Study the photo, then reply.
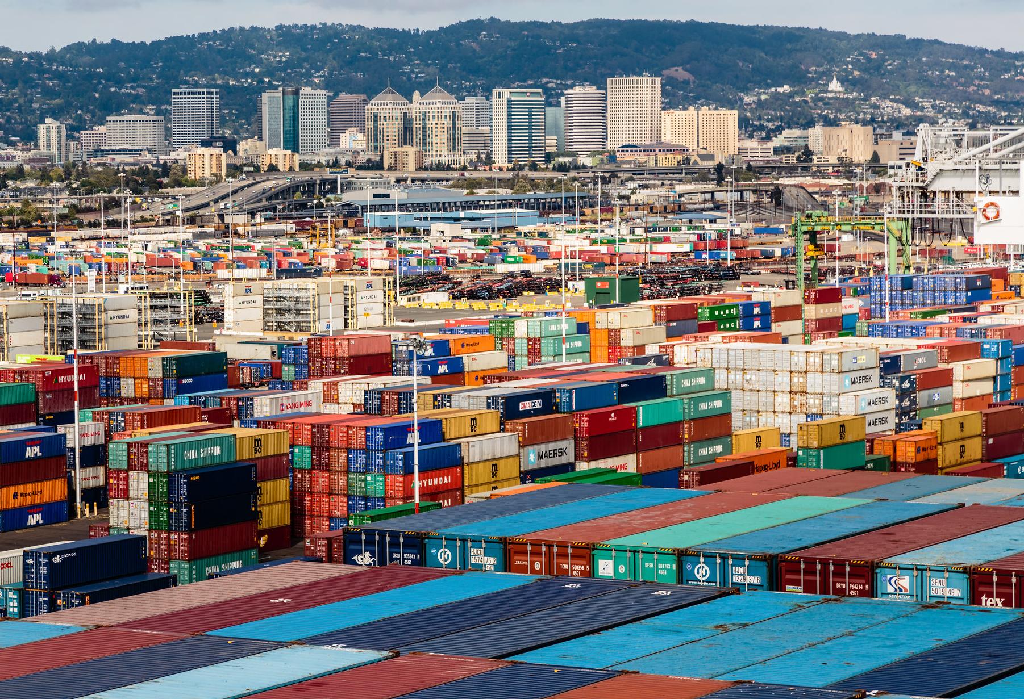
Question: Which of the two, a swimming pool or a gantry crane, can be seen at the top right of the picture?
gantry crane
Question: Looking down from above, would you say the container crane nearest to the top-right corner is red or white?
white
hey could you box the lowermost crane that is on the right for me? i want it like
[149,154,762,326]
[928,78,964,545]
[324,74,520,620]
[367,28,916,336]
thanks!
[788,203,915,327]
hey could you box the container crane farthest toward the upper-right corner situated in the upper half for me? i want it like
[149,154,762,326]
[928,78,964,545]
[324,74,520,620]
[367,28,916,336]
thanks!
[878,122,1024,246]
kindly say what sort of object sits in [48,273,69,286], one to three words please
vehicle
